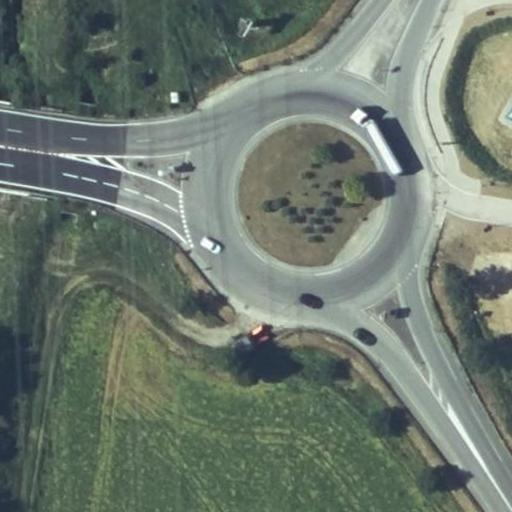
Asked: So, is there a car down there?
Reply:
Yes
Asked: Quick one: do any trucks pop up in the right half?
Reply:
Yes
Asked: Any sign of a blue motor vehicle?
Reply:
No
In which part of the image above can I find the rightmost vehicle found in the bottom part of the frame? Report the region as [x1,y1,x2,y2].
[354,328,376,346]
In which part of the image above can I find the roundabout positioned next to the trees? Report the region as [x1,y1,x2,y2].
[190,72,434,318]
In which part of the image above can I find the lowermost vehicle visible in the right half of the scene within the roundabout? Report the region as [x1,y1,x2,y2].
[300,294,324,308]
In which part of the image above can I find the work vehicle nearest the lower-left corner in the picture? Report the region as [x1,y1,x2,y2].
[240,322,270,348]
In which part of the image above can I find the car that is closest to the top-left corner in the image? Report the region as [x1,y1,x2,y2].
[200,236,222,254]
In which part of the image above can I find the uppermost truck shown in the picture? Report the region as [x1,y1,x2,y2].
[351,108,404,174]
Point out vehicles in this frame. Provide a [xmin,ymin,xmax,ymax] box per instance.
[200,236,222,254]
[351,108,404,174]
[300,294,324,308]
[240,322,270,348]
[354,328,376,346]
